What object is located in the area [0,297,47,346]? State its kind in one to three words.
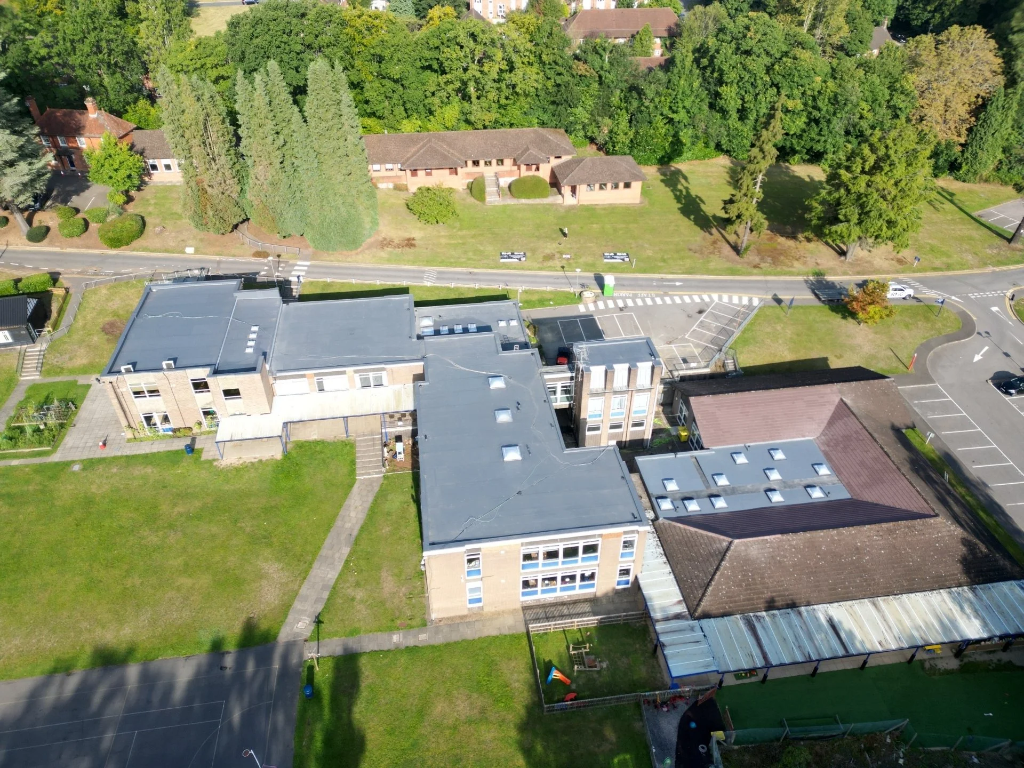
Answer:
shed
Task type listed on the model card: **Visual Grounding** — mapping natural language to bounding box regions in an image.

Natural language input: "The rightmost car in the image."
[996,373,1024,395]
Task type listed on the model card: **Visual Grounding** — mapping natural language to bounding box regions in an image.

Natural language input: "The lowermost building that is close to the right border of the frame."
[632,366,1024,632]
